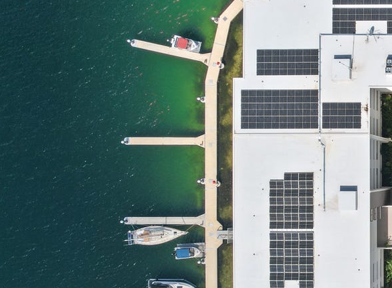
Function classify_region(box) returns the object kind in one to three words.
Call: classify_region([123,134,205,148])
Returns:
pier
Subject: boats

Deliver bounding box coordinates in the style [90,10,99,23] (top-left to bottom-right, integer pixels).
[169,35,202,50]
[147,283,194,288]
[124,226,187,245]
[172,247,202,259]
